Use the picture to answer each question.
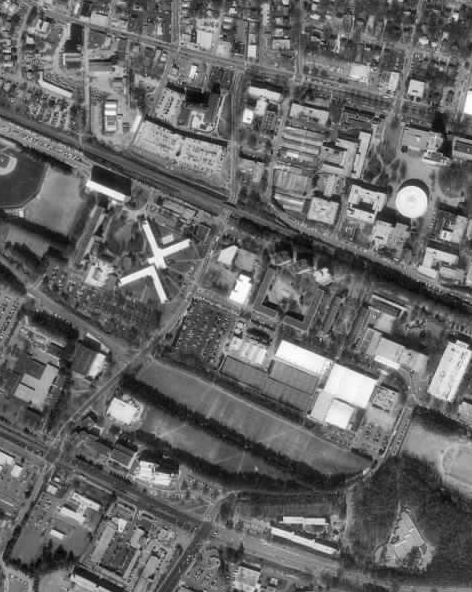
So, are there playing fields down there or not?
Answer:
Yes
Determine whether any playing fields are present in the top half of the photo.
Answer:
Yes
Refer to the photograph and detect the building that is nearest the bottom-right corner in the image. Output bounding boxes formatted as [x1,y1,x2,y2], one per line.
[389,512,425,559]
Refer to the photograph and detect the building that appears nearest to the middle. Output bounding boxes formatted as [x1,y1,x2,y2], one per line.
[230,274,251,305]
